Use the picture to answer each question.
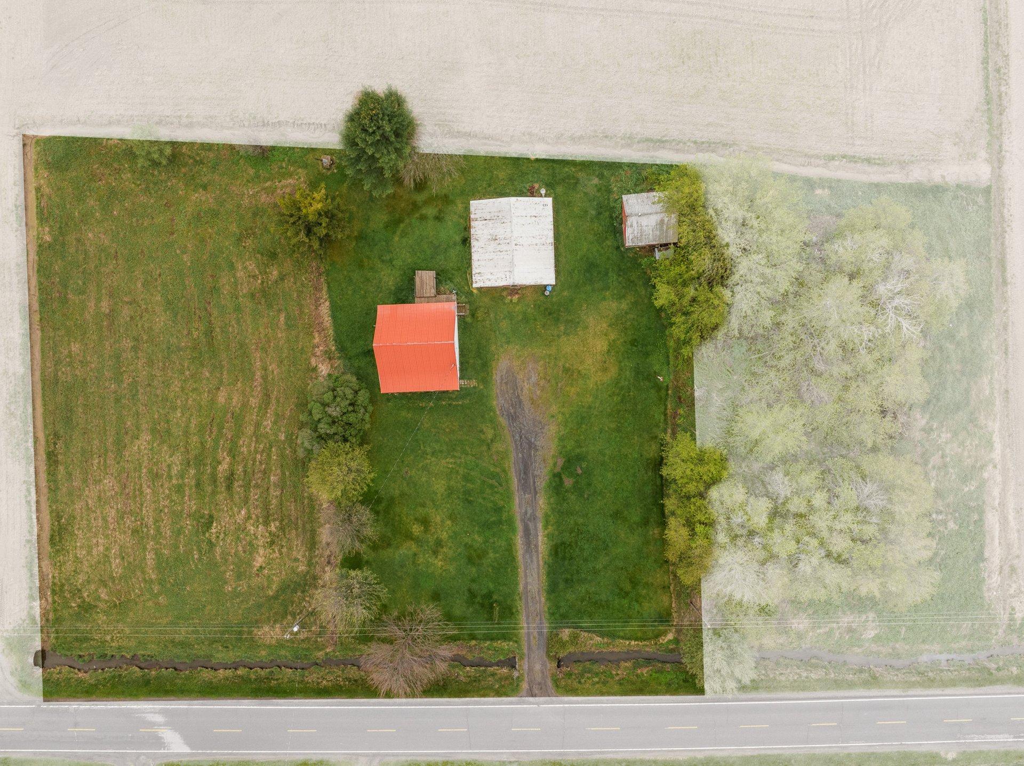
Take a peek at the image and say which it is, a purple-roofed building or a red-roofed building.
red-roofed building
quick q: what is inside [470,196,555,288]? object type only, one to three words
barn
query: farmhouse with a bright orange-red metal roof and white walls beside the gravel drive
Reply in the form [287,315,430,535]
[373,302,460,392]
